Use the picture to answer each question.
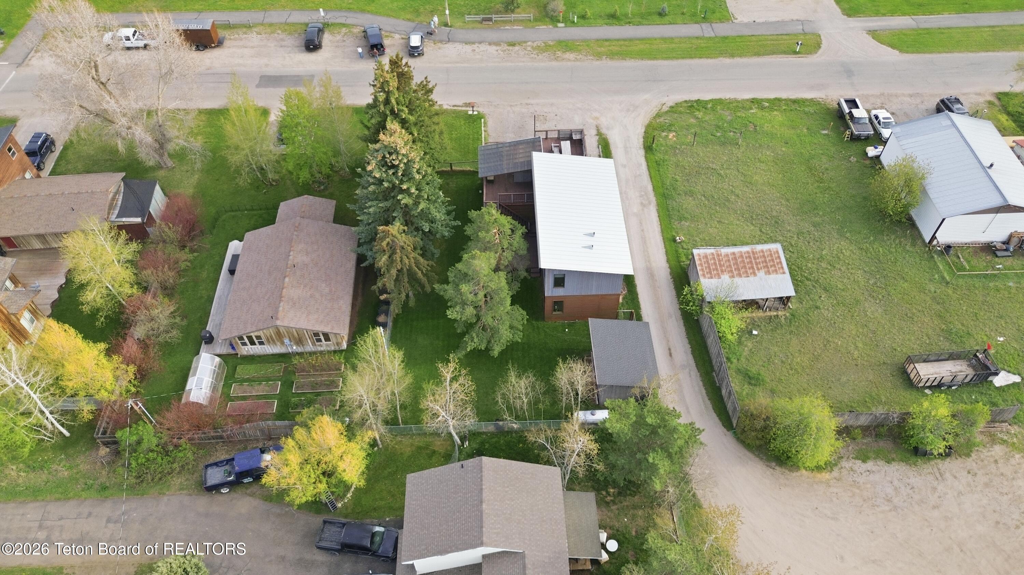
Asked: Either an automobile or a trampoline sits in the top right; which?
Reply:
automobile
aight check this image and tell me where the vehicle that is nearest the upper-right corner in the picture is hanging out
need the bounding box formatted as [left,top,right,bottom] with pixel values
[935,88,979,118]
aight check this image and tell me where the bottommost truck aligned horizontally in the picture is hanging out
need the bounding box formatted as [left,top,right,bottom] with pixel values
[315,520,403,563]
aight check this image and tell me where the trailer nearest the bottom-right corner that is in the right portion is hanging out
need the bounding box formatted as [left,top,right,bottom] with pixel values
[905,348,1003,387]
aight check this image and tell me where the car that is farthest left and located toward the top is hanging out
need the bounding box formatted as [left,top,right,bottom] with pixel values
[22,134,56,172]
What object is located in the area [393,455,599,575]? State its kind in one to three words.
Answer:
house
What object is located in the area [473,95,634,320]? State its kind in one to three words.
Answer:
house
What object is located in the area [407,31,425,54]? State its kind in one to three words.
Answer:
car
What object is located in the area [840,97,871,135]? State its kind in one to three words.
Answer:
truck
